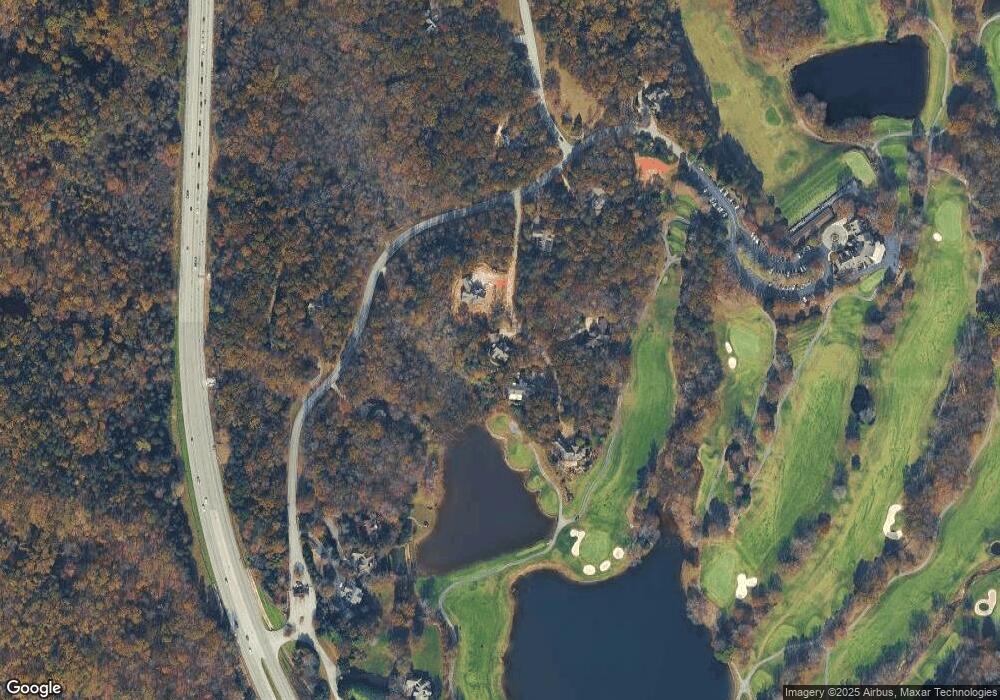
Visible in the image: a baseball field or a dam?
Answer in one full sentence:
This aerial view contains a dam.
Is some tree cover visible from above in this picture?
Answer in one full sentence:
Yes, there is tree cover in the image.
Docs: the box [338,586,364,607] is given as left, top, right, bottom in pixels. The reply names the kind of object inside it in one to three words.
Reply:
house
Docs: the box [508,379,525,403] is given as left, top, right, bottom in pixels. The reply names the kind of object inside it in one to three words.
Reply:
house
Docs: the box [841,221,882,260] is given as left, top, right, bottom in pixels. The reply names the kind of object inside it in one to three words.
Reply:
building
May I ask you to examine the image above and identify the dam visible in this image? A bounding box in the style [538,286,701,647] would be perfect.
[432,538,551,591]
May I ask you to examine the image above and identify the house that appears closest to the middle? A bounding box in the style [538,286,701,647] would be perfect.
[489,340,514,366]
